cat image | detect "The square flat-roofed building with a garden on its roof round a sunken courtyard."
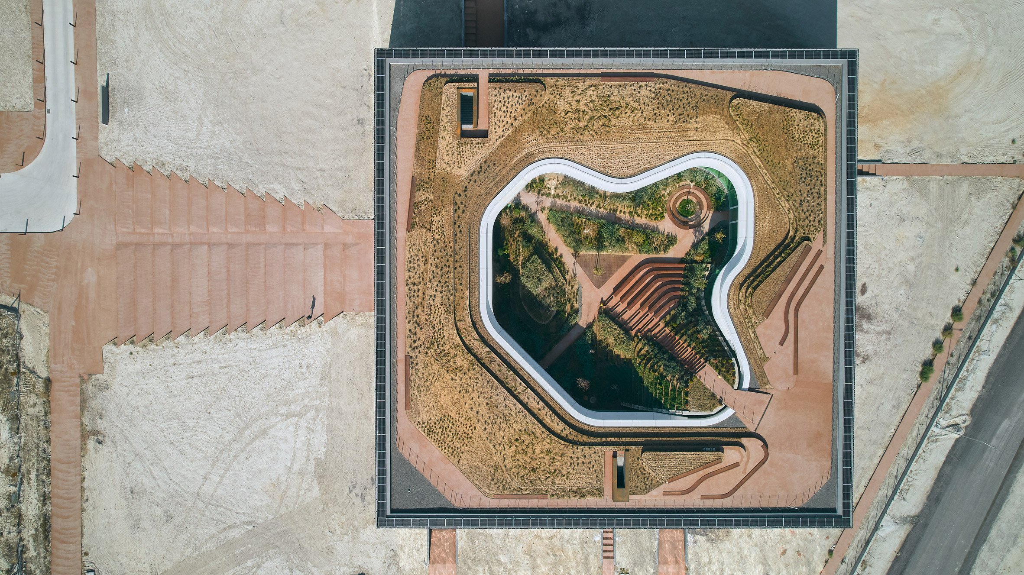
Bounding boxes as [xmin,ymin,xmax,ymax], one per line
[374,48,859,529]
